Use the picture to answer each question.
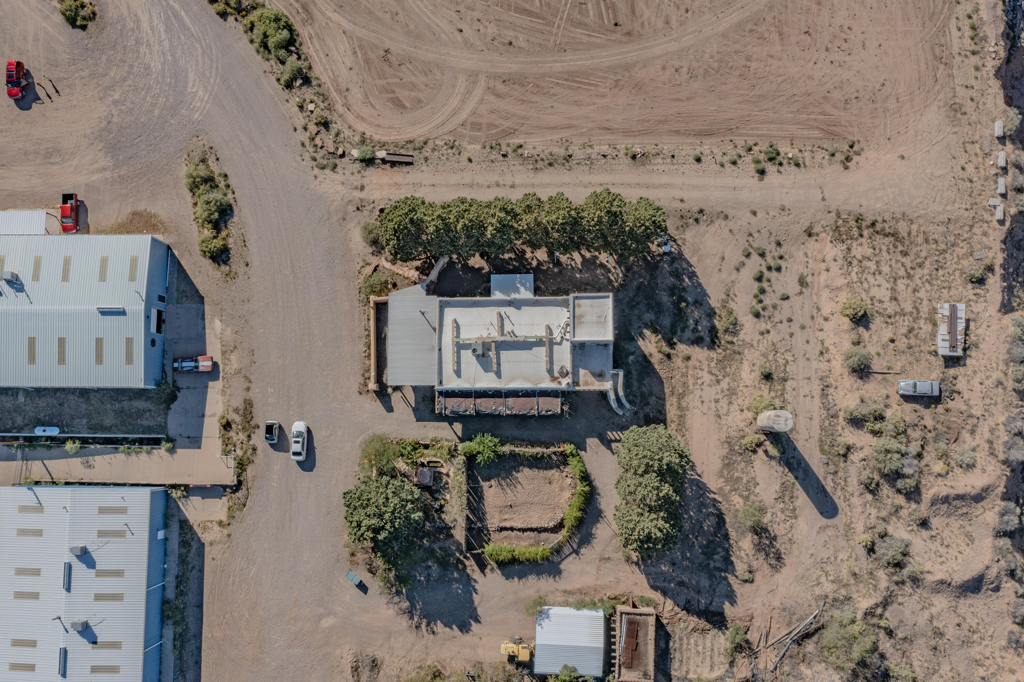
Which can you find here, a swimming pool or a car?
car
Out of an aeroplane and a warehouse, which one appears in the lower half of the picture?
warehouse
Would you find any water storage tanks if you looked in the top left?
No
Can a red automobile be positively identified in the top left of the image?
Yes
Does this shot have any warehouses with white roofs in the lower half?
Yes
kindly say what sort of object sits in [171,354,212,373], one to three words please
car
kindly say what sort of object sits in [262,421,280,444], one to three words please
car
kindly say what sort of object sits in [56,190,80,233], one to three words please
truck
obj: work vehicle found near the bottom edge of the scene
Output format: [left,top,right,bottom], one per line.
[497,638,533,662]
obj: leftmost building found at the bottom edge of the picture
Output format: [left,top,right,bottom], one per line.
[0,484,168,682]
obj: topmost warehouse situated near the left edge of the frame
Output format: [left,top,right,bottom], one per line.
[0,233,168,391]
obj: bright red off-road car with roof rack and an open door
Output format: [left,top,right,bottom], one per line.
[2,58,29,99]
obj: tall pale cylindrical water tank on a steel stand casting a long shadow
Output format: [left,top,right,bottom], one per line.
[748,409,794,434]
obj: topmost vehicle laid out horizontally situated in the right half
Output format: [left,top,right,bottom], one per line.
[899,379,941,398]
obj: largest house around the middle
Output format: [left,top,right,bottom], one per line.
[437,290,613,392]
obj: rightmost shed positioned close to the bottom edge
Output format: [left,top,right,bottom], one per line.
[610,596,655,682]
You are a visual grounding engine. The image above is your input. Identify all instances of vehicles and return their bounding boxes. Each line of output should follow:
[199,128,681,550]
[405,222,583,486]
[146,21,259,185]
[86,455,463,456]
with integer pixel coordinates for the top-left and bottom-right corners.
[56,190,80,233]
[497,638,533,662]
[171,354,212,373]
[2,58,29,99]
[262,421,280,444]
[899,379,941,398]
[288,421,307,463]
